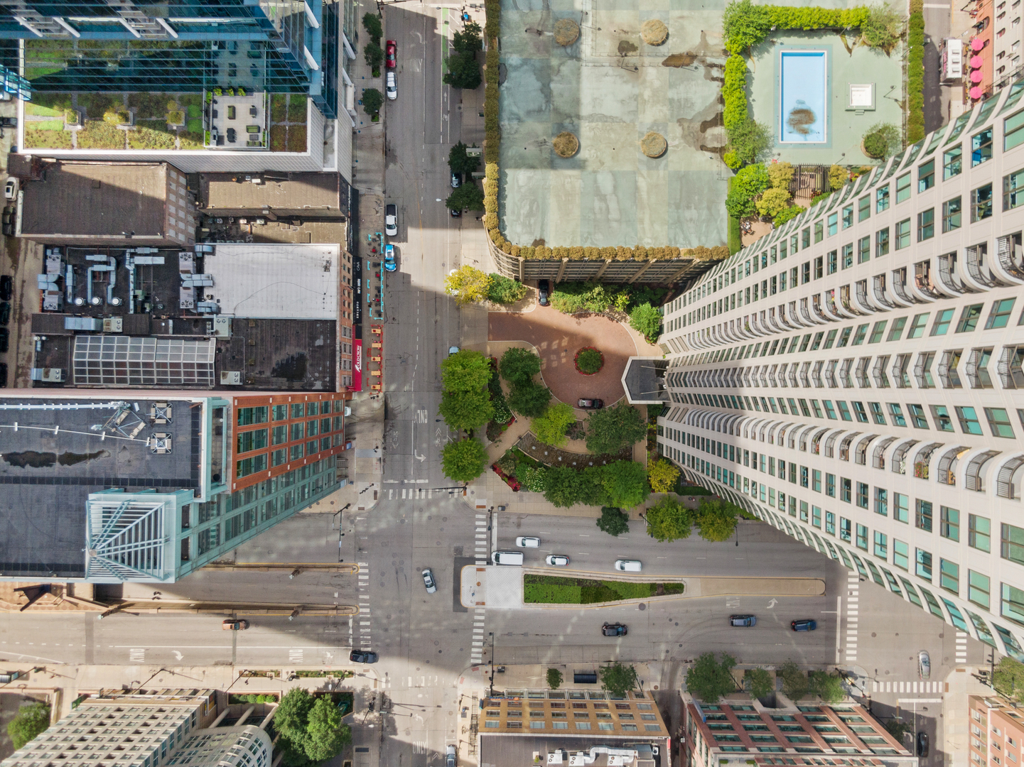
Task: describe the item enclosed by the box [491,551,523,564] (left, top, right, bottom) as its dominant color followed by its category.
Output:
white vehicle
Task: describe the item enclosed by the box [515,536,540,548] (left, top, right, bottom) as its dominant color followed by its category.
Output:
white vehicle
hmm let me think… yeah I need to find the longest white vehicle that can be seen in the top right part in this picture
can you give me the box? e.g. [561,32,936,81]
[938,37,961,88]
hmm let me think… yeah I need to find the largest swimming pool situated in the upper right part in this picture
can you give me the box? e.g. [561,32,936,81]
[780,49,828,145]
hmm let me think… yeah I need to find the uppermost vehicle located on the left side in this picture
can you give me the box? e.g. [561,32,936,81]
[385,42,397,70]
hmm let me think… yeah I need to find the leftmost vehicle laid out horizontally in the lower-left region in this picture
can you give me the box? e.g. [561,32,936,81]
[224,618,249,630]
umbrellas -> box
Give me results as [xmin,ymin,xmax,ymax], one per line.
[969,87,981,98]
[969,56,982,68]
[968,71,982,82]
[968,39,982,50]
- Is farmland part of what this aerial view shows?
No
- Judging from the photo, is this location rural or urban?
urban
